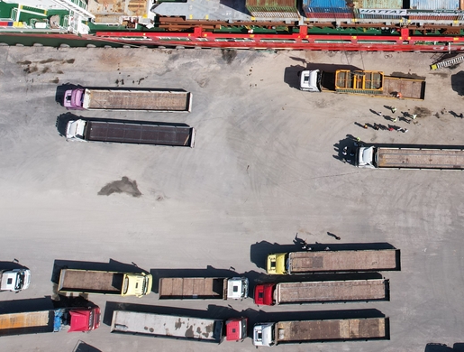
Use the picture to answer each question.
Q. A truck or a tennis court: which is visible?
truck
